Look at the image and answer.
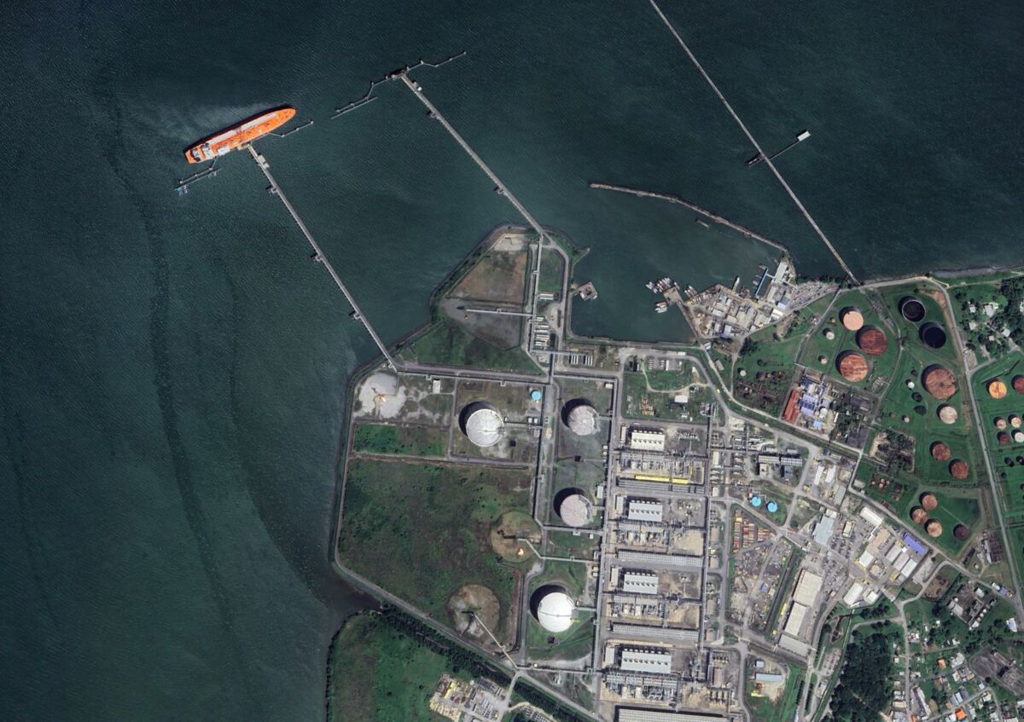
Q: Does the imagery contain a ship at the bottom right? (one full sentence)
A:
No, the scene shows no ship at the bottom right.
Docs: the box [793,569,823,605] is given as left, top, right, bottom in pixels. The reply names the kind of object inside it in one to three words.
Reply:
building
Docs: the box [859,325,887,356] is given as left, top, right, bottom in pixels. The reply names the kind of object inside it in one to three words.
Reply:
storage tank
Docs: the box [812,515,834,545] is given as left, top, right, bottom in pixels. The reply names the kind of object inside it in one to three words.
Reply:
building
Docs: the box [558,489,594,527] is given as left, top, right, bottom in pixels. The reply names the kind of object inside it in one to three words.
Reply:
storage tank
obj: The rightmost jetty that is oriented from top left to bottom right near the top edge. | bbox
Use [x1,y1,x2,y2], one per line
[652,0,858,285]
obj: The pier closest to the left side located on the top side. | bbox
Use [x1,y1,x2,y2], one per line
[252,146,397,371]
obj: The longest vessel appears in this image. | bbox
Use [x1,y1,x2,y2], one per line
[184,107,296,164]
